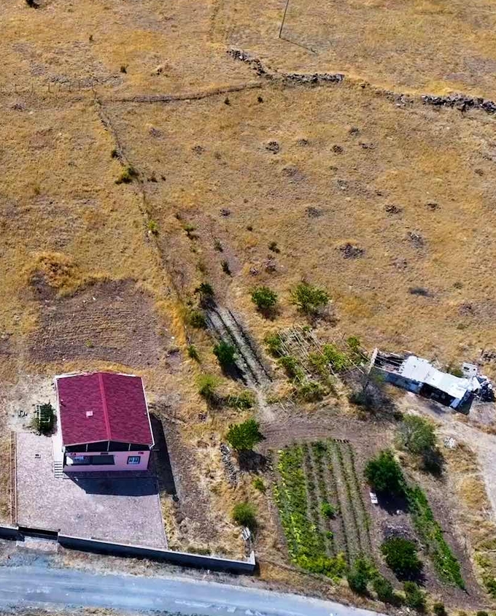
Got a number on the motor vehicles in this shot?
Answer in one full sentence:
There are no motor vehicles in this view.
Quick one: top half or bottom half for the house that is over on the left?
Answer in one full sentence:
You can find the house that is over on the left in the bottom half.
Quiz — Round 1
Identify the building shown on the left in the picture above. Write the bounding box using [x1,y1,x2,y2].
[50,371,156,479]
